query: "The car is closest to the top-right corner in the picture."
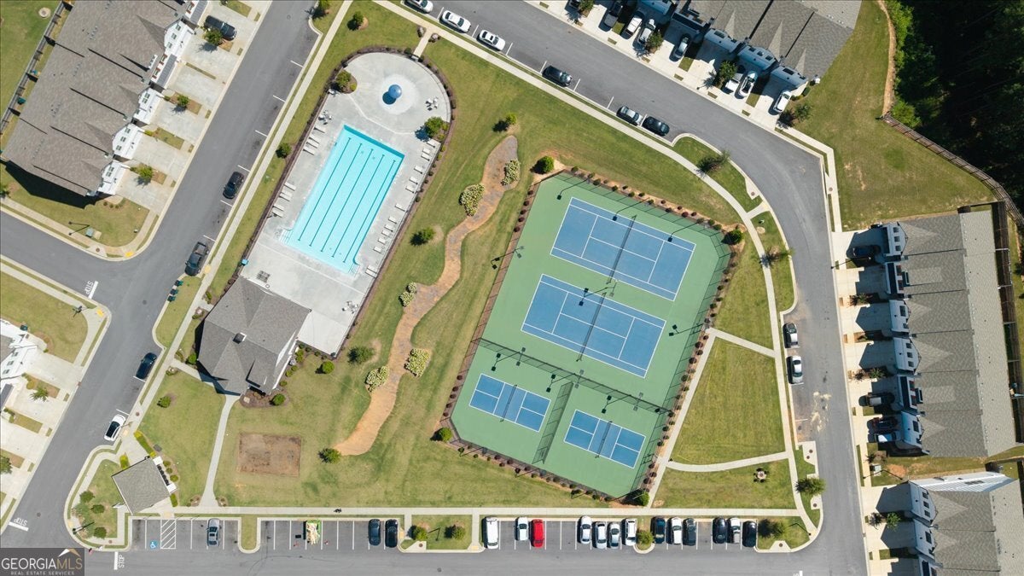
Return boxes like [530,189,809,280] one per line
[772,87,792,115]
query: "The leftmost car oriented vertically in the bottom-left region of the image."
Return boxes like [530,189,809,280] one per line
[207,517,221,546]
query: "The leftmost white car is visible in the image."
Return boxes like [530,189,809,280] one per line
[104,414,127,441]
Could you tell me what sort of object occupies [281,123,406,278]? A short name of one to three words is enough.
swimming pool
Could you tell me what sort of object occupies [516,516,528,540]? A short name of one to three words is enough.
vehicle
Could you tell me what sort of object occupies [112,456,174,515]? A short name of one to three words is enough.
building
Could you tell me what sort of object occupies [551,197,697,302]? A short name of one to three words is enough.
tennis court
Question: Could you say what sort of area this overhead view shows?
residential area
